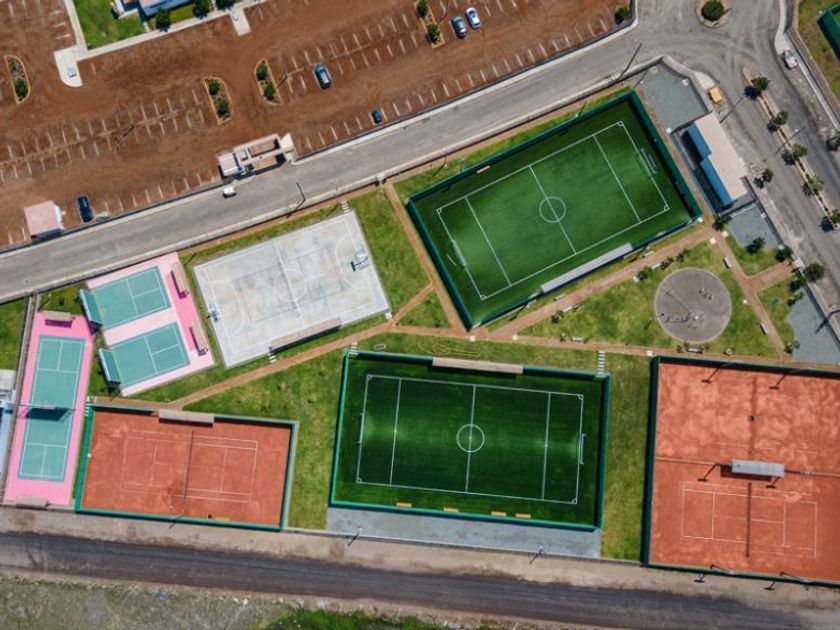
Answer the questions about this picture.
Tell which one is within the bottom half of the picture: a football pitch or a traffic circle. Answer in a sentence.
The feature located within the bottom half of the picture is a football pitch.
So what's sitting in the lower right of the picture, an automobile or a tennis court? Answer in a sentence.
Looking in the lower right of the picture, you will find a tennis court.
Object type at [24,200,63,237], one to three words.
building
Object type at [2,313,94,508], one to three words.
sports court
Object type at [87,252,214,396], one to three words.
sports court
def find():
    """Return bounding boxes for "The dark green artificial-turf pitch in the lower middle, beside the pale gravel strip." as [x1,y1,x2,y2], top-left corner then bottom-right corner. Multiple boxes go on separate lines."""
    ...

[335,354,605,526]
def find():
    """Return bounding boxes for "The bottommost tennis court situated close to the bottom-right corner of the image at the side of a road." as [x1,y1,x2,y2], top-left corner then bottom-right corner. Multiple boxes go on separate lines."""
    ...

[655,459,840,582]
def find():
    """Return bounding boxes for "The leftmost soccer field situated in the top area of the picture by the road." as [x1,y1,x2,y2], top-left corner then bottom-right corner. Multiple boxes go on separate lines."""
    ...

[413,98,694,326]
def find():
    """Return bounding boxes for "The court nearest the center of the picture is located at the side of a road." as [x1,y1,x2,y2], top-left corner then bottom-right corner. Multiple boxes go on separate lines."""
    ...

[194,210,390,367]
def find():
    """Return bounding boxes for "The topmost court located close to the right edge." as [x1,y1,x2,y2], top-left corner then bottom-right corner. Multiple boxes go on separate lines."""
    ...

[660,364,840,475]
